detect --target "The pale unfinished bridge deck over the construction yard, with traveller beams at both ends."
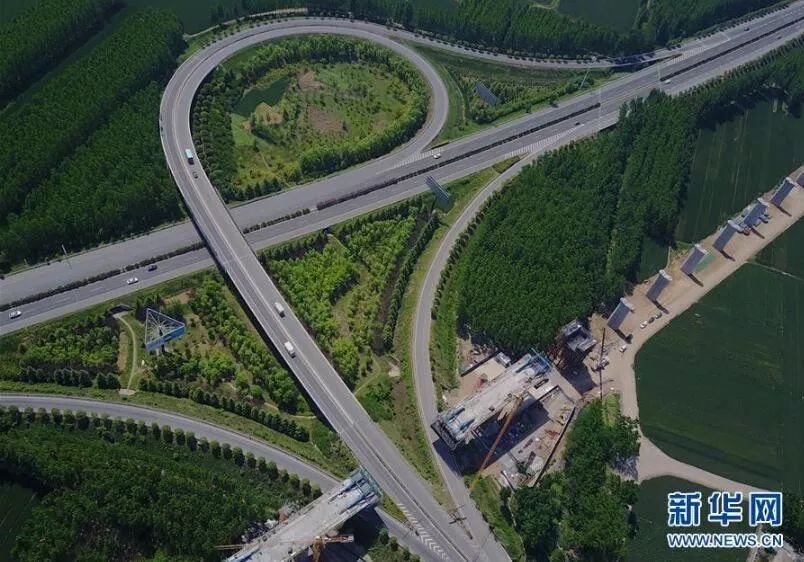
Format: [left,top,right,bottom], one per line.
[426,343,555,456]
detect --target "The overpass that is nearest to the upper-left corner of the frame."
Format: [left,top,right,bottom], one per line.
[159,48,379,433]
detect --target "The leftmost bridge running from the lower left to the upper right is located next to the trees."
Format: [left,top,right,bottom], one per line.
[207,460,376,562]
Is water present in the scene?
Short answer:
No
